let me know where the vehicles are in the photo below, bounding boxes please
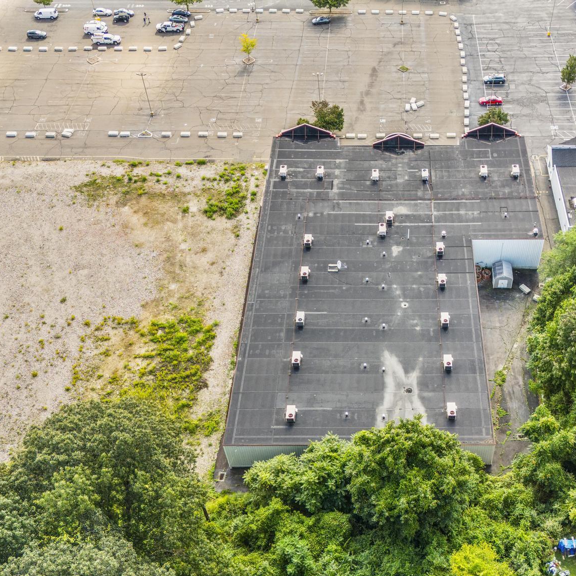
[91,32,119,44]
[112,8,134,16]
[484,73,506,84]
[35,8,58,20]
[311,16,332,26]
[112,11,131,22]
[26,29,47,39]
[171,9,192,18]
[168,15,189,24]
[158,21,183,32]
[478,97,503,107]
[91,8,113,16]
[84,19,108,26]
[83,22,108,35]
